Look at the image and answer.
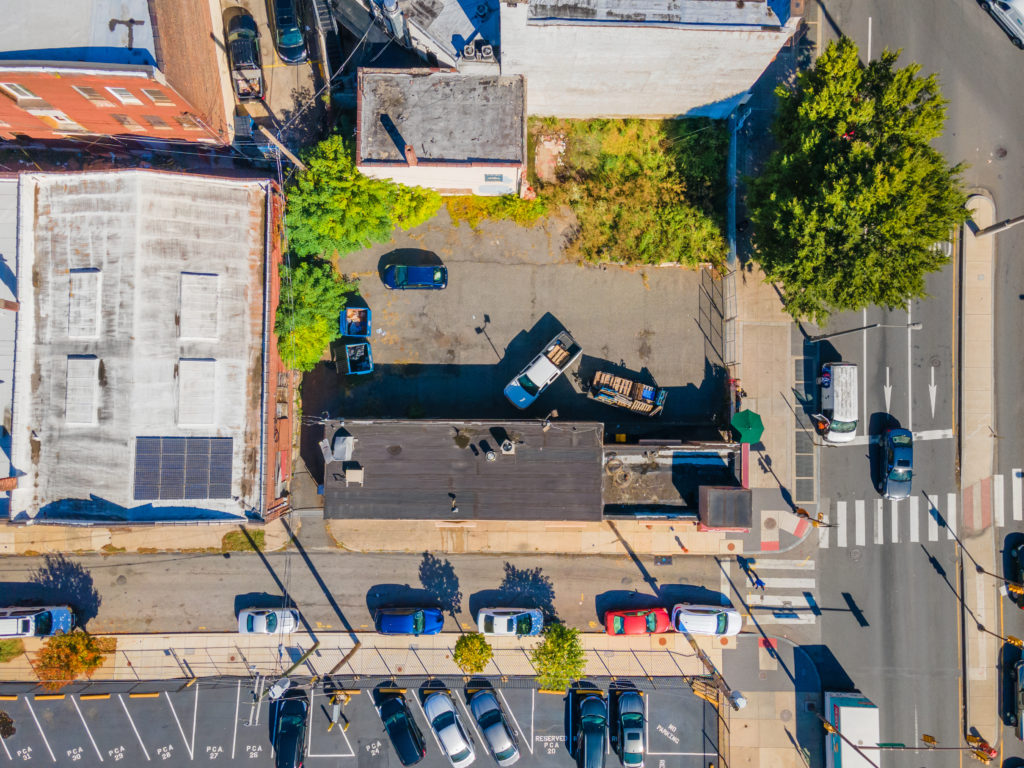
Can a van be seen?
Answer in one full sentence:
Yes, there's a van down there.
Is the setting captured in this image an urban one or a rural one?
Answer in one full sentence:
The area shown here is urban.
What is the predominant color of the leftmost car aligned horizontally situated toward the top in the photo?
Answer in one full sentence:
The leftmost car aligned horizontally situated toward the top looks blue in the image.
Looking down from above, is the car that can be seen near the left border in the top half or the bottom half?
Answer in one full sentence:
Seen from above, the car that can be seen near the left border lies in the bottom half of the view.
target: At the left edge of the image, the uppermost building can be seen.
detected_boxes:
[0,0,229,143]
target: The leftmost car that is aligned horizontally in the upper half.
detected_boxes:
[384,261,448,292]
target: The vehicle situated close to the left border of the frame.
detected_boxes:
[0,605,80,637]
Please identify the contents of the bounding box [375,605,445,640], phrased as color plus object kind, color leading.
blue car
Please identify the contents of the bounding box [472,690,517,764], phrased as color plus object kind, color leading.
blue car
